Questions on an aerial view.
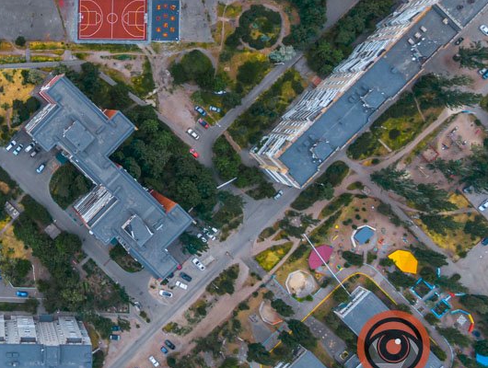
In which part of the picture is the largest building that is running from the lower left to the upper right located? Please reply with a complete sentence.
The largest building that is running from the lower left to the upper right is in the top right part of the image.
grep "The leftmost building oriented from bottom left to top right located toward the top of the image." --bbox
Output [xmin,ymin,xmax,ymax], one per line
[248,8,462,190]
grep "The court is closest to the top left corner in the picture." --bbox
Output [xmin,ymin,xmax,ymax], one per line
[78,0,148,40]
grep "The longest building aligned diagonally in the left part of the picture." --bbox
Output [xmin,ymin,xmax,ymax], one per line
[25,72,194,280]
